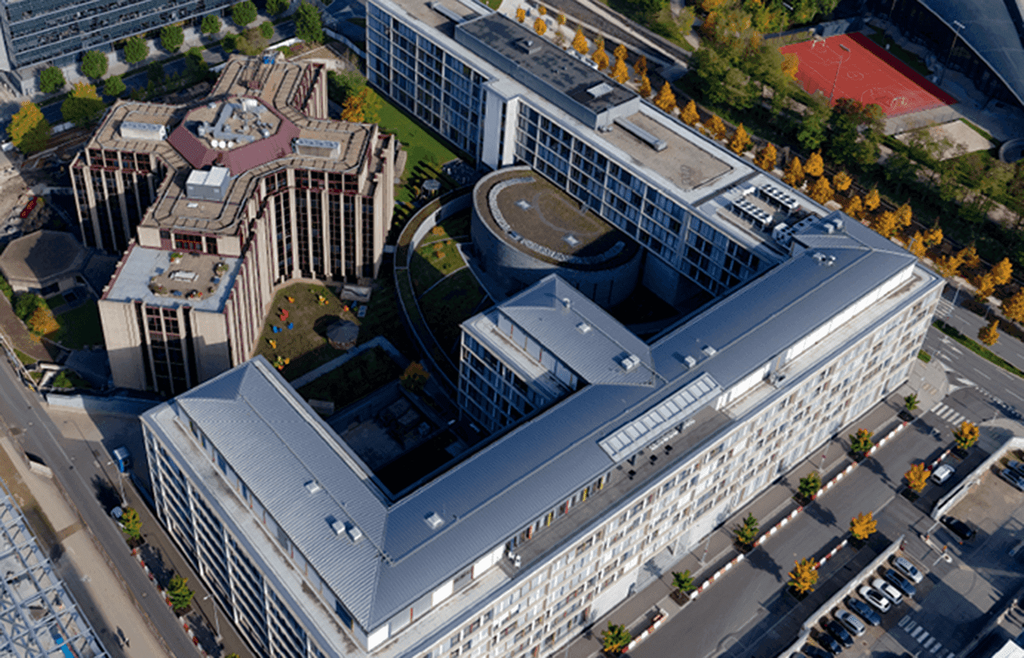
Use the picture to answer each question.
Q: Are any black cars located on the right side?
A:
Yes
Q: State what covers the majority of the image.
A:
buildings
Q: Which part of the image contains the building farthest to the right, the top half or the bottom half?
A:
top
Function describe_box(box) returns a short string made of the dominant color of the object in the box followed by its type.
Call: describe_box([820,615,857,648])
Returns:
black car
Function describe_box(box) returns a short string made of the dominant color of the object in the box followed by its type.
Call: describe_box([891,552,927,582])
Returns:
gray car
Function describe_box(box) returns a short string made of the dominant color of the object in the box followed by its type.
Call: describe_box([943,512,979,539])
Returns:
black car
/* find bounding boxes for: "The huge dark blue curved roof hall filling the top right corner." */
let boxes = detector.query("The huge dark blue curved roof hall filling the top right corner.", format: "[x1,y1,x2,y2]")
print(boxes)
[929,0,1024,130]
